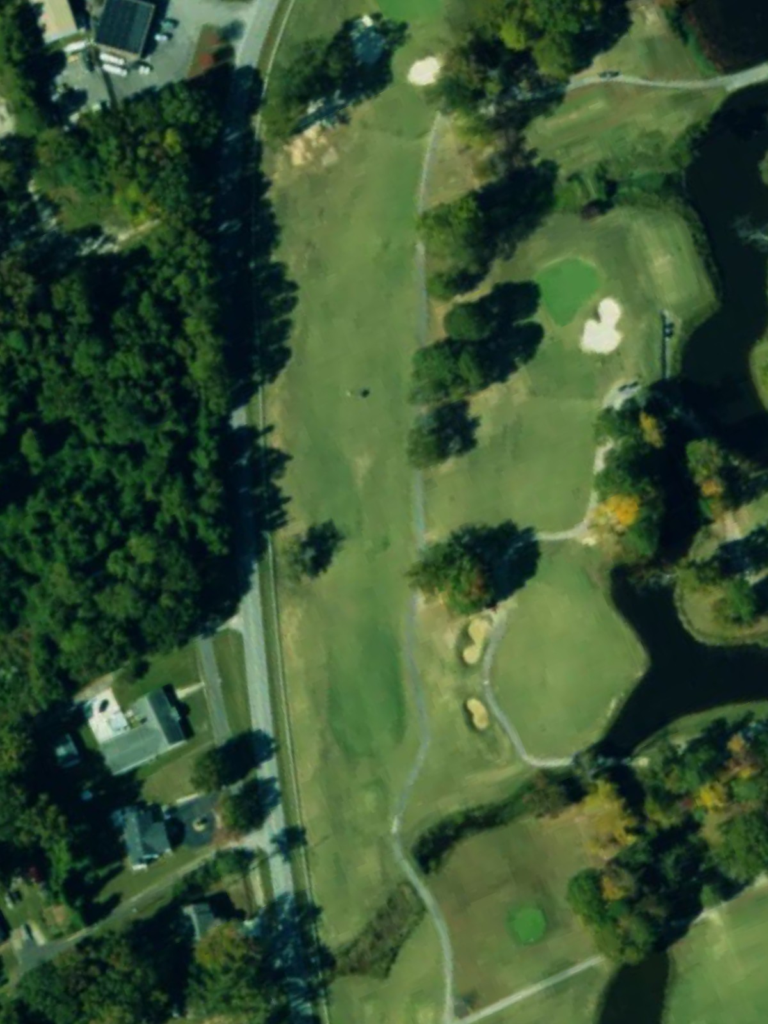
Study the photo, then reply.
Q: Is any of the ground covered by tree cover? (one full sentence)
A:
Yes, there's tree cover in this view.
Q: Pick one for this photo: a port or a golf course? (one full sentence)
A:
This image shows a golf course.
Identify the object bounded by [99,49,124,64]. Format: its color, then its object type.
white vehicle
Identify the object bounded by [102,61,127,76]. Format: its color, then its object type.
white vehicle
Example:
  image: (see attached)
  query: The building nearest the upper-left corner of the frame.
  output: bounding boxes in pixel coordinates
[37,0,79,42]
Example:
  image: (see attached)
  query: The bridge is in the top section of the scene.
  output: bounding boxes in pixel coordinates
[721,64,768,90]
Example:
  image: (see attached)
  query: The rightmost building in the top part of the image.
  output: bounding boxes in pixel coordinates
[93,0,155,58]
